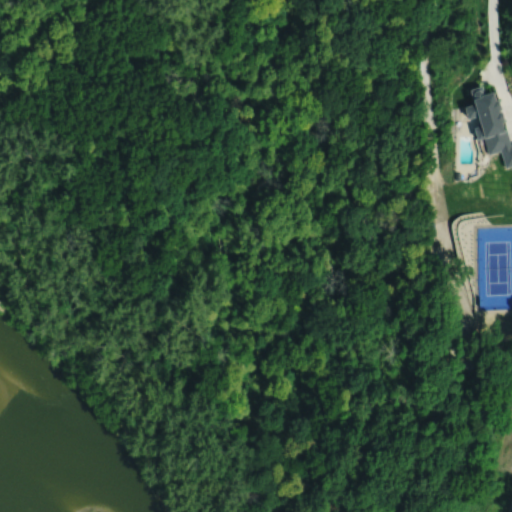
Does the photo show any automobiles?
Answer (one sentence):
No, the picture doesn't show any automobile.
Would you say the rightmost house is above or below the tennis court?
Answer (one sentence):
From this view, the rightmost house can be seen above the tennis court.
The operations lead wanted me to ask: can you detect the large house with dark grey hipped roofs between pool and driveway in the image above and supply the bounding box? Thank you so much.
[466,88,512,167]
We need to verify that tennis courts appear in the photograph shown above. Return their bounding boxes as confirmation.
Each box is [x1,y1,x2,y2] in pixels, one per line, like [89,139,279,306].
[474,226,512,314]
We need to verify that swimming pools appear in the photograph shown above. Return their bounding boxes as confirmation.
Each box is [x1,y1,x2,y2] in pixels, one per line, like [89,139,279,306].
[460,137,474,164]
